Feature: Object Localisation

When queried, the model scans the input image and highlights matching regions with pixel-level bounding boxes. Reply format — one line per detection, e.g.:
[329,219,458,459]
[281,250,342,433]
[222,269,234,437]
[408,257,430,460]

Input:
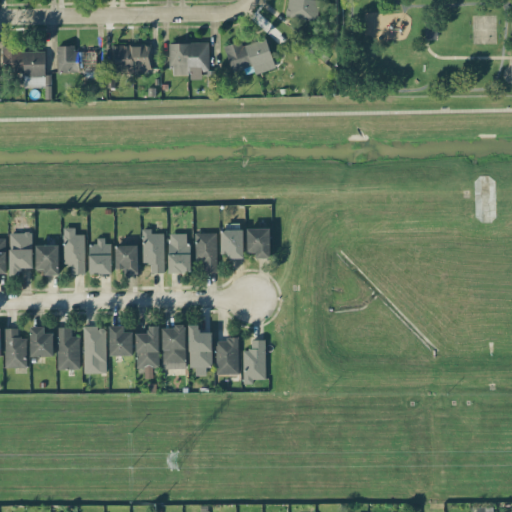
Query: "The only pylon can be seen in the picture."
[166,450,180,470]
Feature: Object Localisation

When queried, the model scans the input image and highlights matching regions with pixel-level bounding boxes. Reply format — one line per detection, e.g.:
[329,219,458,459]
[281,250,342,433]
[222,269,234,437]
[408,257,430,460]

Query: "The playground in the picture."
[364,12,412,41]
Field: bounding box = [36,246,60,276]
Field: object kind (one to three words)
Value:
house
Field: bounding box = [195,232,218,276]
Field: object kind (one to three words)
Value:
house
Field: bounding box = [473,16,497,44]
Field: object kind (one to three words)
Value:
basketball court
